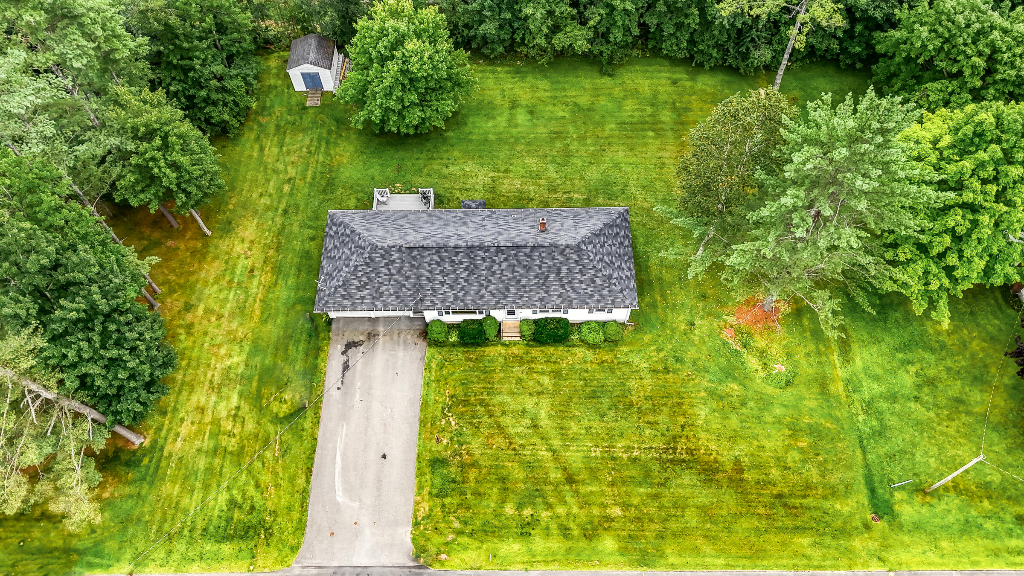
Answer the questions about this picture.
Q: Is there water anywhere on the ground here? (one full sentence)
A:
No, water can't be seen anywhere here.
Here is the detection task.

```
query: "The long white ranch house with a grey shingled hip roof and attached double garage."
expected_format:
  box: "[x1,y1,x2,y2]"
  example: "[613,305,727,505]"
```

[313,200,640,323]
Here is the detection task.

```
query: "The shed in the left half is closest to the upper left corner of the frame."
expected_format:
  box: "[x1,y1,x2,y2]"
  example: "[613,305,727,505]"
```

[287,31,339,90]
